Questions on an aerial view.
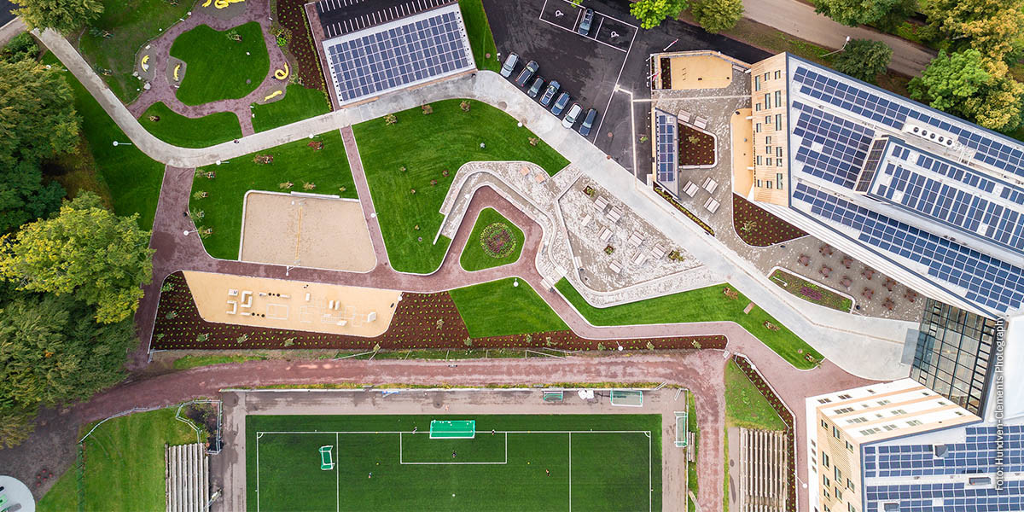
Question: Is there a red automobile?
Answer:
No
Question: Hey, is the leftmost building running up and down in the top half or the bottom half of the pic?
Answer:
top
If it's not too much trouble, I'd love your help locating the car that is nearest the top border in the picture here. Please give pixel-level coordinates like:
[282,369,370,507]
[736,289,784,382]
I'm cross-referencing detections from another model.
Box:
[578,8,594,35]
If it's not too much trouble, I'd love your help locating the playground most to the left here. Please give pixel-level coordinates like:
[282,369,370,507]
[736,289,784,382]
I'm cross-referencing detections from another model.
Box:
[181,271,404,336]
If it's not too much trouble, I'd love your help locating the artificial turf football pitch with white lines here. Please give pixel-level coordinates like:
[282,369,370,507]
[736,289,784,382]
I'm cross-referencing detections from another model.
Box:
[246,415,662,512]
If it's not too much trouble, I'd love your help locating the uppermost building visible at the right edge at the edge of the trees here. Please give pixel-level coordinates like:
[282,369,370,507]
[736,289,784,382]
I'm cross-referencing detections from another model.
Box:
[748,52,1024,330]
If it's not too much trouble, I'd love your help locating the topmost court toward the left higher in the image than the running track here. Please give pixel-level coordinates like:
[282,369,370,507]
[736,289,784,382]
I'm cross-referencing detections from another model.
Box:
[239,190,378,273]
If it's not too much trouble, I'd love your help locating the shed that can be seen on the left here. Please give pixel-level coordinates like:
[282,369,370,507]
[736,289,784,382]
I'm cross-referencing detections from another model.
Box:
[323,4,477,107]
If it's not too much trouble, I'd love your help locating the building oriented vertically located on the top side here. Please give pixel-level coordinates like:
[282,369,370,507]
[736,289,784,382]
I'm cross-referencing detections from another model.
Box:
[656,108,679,200]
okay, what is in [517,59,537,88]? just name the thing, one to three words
car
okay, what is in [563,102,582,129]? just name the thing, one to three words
car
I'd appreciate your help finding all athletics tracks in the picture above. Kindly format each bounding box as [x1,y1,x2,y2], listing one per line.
[42,349,727,512]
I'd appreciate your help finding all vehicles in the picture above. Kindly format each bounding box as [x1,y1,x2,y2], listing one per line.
[579,107,598,135]
[551,90,570,117]
[540,80,560,107]
[563,102,582,129]
[578,8,594,35]
[501,52,519,78]
[528,76,545,99]
[517,59,537,88]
